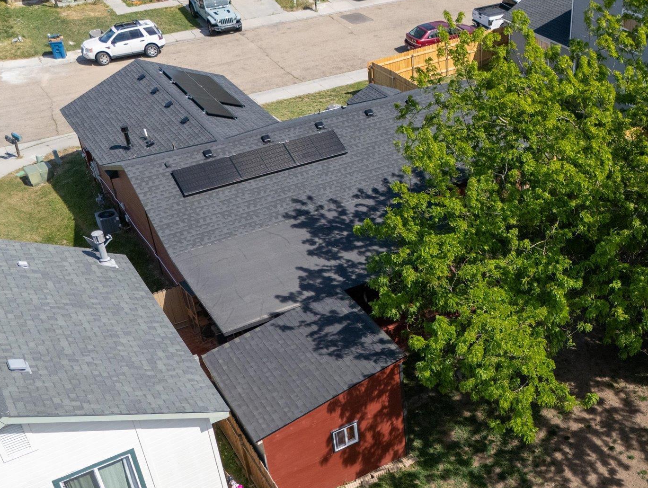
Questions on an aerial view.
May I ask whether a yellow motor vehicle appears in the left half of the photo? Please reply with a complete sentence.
No, I see no yellow motor vehicle in the left half of the photo.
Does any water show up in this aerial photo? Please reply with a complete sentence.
No, no water is visible.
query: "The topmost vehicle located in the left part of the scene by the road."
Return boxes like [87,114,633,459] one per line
[189,0,237,31]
